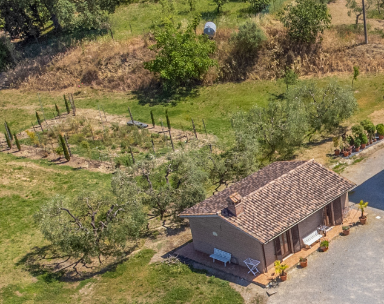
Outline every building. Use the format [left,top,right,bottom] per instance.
[177,158,358,271]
